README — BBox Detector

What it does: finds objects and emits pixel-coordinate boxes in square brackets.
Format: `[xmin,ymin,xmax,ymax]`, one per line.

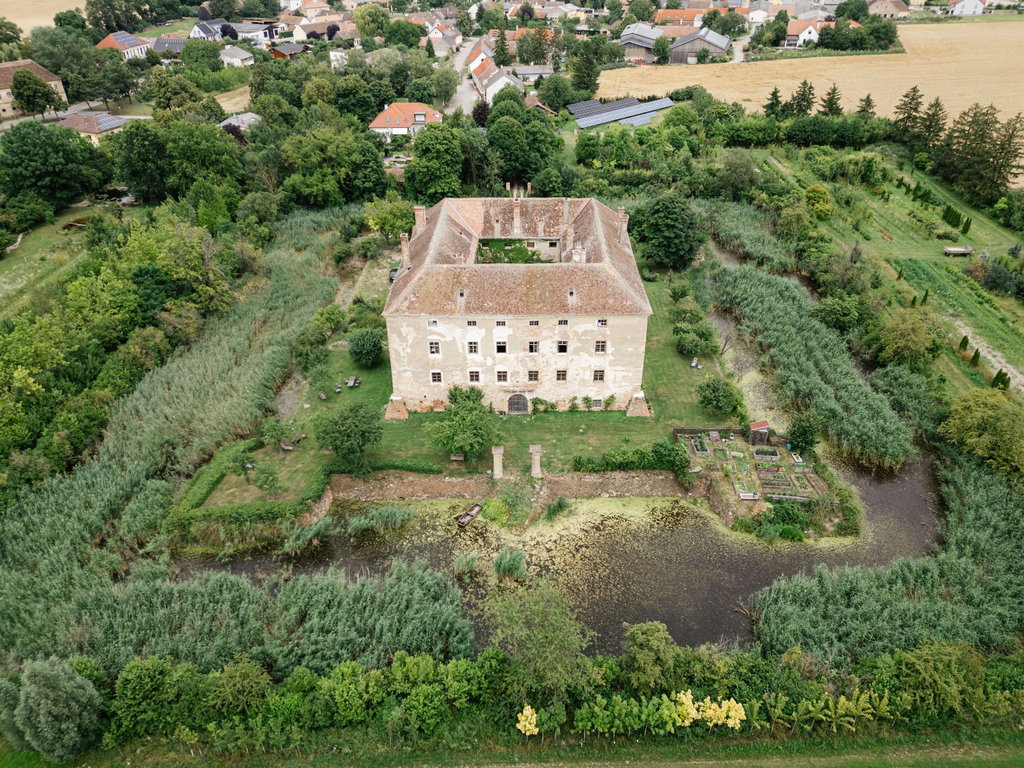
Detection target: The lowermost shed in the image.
[750,419,774,447]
